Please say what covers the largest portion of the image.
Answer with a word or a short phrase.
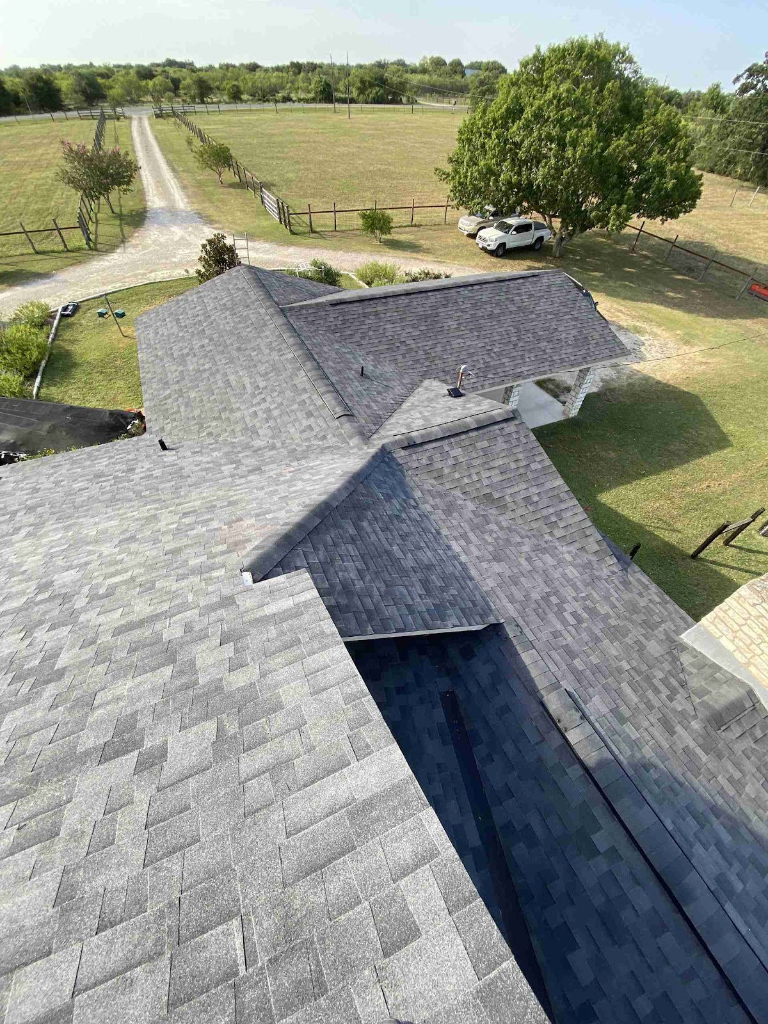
buildings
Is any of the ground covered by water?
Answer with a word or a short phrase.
No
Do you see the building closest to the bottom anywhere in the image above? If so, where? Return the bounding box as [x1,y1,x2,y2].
[0,263,768,1024]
